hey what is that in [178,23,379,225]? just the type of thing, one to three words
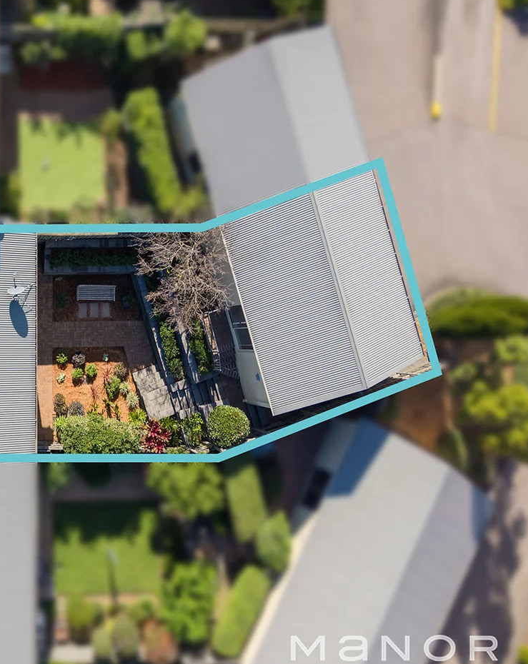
building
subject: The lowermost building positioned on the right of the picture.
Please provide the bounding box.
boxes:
[235,419,494,664]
